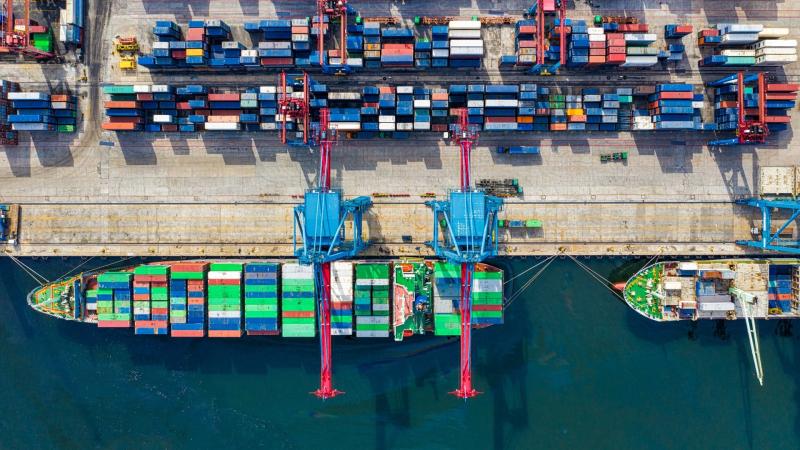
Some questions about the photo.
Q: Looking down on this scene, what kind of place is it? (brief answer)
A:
port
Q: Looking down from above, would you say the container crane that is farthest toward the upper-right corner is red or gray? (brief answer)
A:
red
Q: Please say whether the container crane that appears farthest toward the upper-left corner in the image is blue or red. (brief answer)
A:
red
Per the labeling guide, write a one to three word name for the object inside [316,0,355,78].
container crane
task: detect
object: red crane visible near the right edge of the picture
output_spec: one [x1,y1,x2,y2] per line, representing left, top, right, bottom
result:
[709,70,769,150]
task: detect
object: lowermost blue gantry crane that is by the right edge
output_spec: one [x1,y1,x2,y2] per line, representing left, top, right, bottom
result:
[738,197,800,249]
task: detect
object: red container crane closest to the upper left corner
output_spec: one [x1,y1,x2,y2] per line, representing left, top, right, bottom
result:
[5,0,67,60]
